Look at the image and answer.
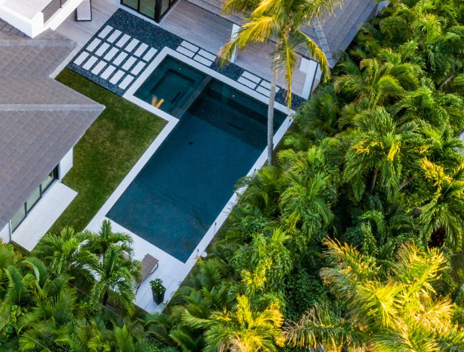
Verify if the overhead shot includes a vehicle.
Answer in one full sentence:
No, no vehicle can be seen from above.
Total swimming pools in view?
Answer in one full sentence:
Only 1 swimming pool is visible.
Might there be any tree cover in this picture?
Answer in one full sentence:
Yes, there's tree cover in this view.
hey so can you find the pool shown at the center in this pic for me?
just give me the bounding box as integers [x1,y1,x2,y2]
[69,46,301,327]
